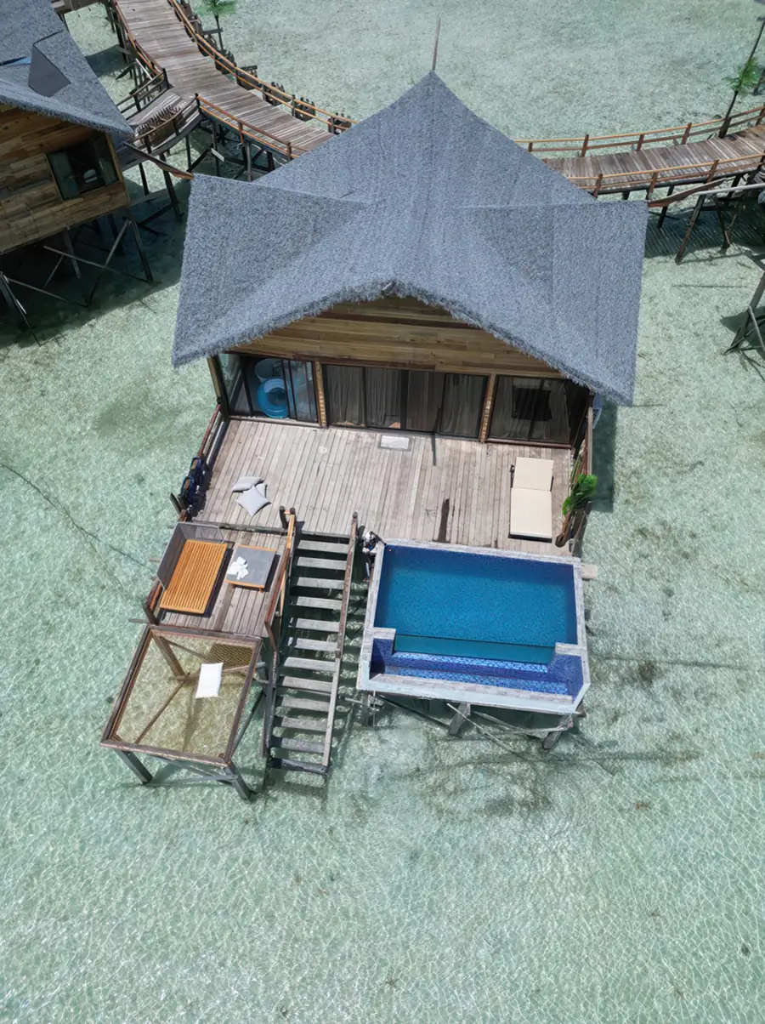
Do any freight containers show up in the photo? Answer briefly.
No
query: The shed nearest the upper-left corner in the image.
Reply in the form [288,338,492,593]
[0,4,148,321]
